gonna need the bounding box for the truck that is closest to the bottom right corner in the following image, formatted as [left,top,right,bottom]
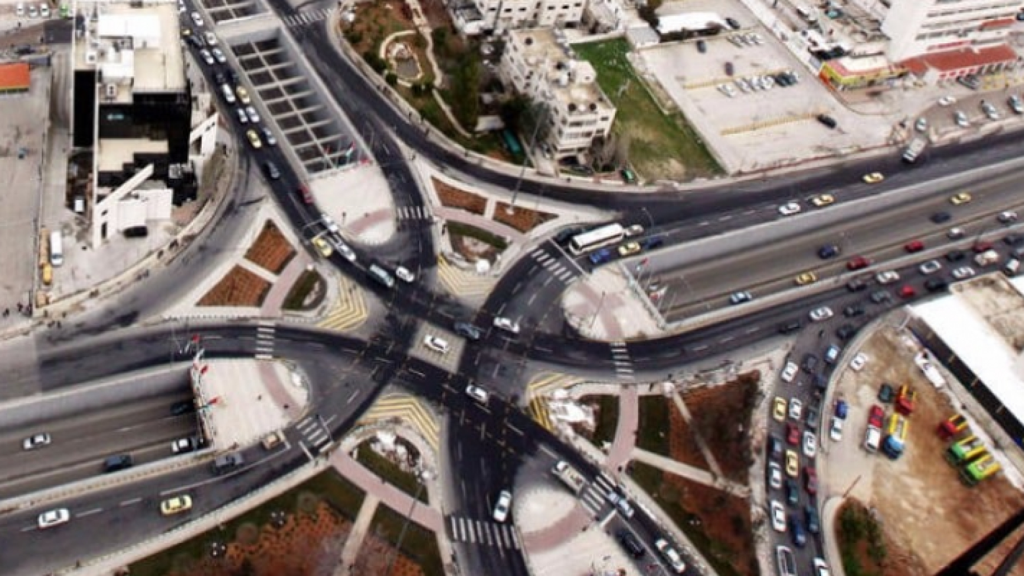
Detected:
[961,450,1008,483]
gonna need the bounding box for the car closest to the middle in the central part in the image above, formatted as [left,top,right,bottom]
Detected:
[491,312,522,335]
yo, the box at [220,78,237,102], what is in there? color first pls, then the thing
white vehicle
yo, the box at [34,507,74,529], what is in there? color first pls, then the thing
white car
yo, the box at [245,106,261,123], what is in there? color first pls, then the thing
white car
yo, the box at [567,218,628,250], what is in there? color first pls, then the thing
white bus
